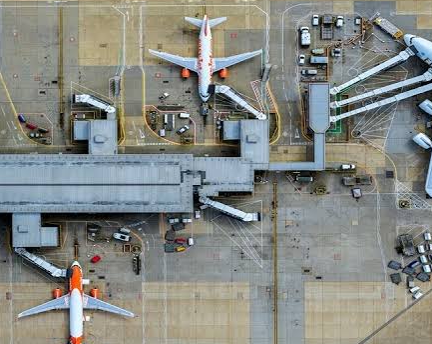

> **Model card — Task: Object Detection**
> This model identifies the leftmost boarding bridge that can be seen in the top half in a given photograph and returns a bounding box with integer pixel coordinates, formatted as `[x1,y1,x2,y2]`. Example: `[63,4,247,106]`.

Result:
[74,93,116,113]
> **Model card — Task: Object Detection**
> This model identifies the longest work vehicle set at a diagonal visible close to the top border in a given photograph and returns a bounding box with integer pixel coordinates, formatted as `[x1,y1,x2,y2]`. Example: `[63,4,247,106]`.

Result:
[376,14,409,41]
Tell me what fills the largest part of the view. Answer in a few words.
paved ground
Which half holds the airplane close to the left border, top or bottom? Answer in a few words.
bottom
